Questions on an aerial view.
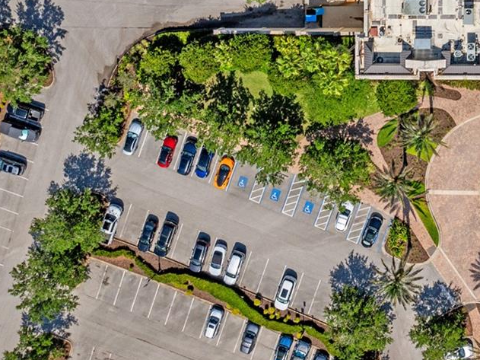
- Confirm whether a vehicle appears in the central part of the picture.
Yes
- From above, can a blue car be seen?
Yes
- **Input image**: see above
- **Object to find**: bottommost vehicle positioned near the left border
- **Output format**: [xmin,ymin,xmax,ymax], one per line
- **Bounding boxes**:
[0,152,29,175]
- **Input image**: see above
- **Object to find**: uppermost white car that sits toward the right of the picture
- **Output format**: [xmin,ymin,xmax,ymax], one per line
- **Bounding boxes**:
[335,198,355,233]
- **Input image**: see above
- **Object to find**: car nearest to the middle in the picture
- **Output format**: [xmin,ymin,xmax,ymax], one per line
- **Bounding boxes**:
[215,156,236,188]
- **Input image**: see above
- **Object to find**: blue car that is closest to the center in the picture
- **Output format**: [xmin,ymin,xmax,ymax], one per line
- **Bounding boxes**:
[195,145,216,181]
